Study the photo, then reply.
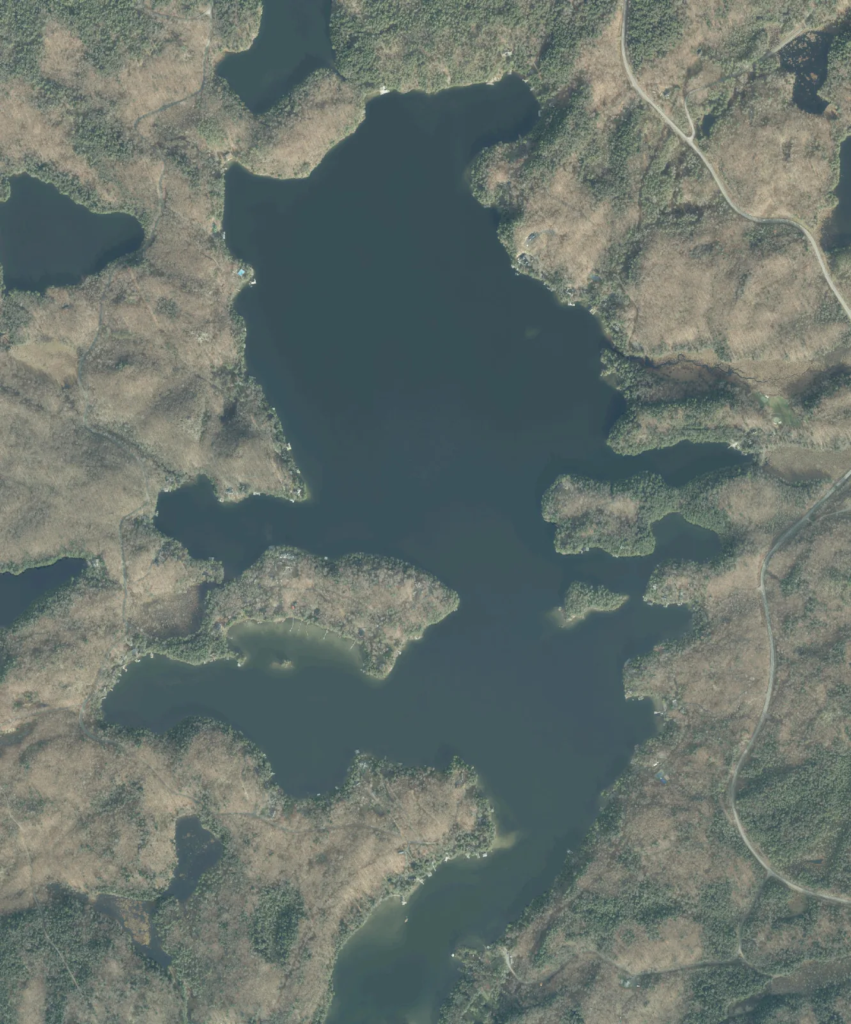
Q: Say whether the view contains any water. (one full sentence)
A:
Yes, the picture does contain water.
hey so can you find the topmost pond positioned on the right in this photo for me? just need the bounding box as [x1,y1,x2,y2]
[780,30,833,113]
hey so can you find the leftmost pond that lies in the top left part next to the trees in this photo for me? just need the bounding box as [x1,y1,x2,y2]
[0,173,142,291]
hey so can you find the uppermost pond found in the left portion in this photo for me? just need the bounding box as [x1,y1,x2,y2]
[217,0,337,114]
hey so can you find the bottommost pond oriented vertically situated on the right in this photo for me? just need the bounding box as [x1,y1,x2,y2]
[823,137,851,251]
